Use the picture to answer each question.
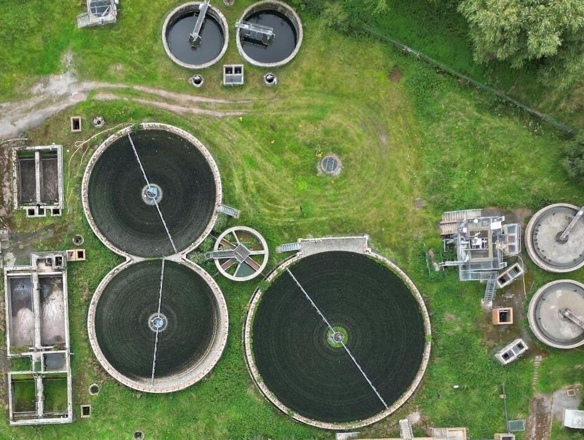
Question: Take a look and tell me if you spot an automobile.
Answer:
No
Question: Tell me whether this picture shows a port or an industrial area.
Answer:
industrial area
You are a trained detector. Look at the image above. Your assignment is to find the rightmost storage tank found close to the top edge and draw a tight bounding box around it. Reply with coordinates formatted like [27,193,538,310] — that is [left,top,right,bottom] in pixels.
[235,0,303,69]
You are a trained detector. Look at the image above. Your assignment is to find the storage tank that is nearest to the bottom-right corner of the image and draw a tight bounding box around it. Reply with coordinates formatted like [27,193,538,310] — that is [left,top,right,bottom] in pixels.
[525,278,584,350]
